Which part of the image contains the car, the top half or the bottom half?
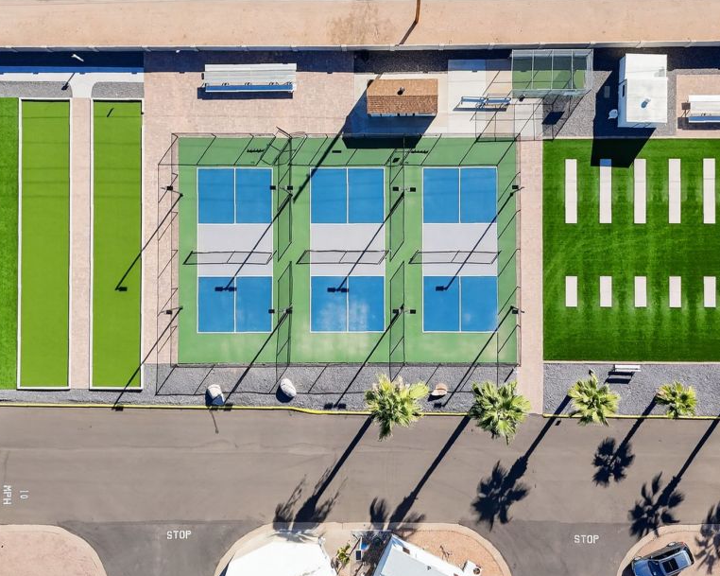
bottom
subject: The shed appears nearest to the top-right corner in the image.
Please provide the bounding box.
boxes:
[610,54,668,132]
